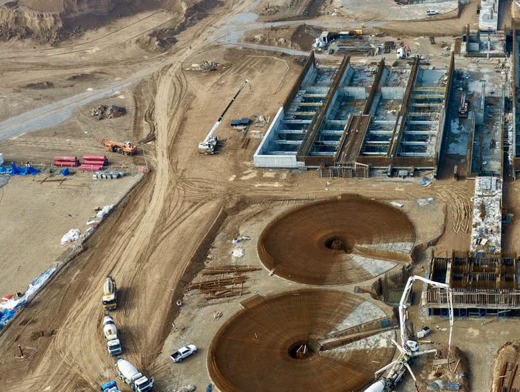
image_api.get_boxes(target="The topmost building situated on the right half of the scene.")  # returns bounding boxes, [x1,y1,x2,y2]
[416,251,520,317]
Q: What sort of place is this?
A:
industrial area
